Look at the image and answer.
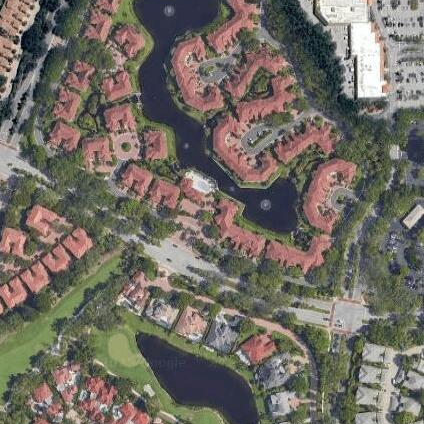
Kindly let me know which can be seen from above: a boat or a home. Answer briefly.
home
